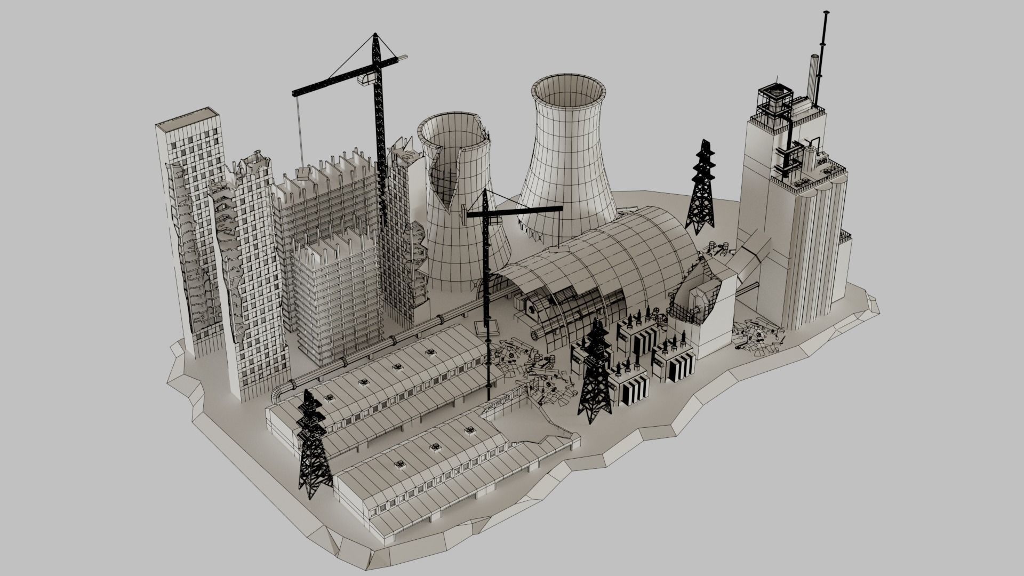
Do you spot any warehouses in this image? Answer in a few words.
Yes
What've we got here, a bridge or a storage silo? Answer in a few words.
storage silo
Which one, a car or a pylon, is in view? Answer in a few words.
pylon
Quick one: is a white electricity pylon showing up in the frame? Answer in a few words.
No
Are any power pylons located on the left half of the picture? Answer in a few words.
Yes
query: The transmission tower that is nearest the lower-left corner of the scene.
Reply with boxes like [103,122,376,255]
[295,392,333,500]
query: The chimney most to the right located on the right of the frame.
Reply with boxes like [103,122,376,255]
[805,52,819,110]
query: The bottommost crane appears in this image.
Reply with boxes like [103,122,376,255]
[458,187,563,326]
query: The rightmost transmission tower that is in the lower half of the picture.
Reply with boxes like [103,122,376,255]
[577,321,612,425]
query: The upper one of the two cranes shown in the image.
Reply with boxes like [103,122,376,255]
[293,32,413,223]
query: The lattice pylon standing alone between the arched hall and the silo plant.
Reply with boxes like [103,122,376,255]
[685,142,716,236]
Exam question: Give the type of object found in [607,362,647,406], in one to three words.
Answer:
storage tank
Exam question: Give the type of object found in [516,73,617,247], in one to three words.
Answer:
cooling tower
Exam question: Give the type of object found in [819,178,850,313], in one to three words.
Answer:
silo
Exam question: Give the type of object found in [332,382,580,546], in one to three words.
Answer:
warehouse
